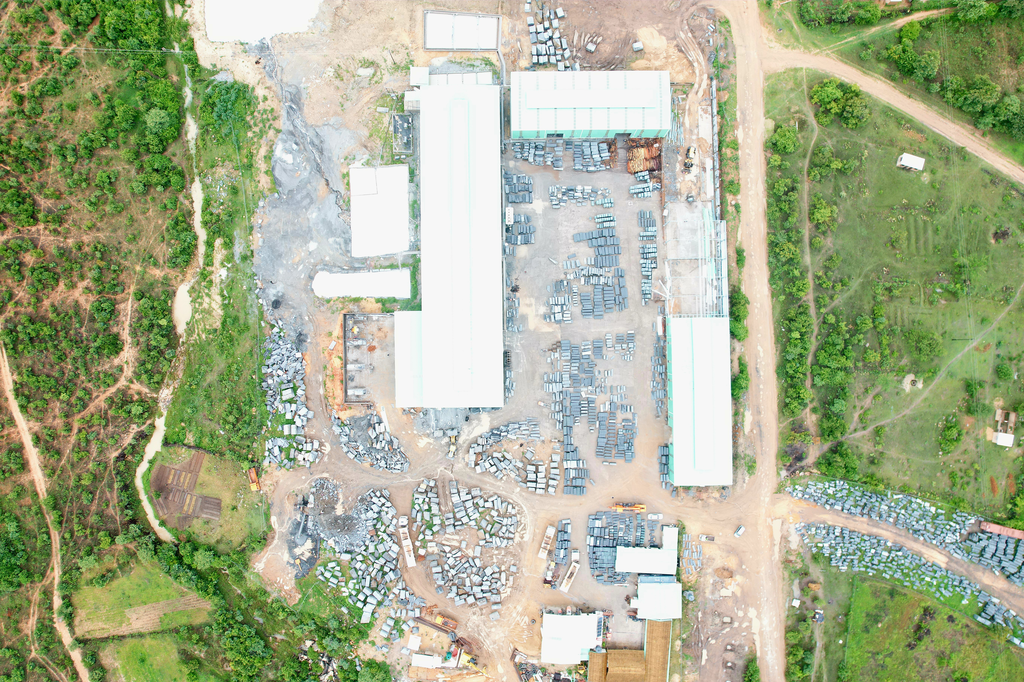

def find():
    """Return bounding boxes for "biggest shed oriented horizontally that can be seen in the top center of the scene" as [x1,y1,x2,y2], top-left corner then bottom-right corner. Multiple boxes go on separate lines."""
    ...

[511,71,671,138]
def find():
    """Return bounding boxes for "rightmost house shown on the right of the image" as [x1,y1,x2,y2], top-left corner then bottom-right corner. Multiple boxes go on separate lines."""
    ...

[986,409,1017,447]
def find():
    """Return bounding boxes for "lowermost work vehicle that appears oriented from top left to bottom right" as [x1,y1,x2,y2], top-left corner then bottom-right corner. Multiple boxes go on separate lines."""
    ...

[458,648,491,675]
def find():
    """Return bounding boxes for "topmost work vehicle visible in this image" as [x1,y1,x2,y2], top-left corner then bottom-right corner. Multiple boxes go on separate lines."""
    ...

[683,145,695,172]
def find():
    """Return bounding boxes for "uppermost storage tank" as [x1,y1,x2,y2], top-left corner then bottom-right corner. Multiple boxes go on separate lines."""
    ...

[424,11,500,51]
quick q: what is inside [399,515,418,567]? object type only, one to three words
vehicle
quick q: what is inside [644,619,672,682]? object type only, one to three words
house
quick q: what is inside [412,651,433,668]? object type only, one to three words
building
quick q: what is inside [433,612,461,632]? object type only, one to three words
vehicle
